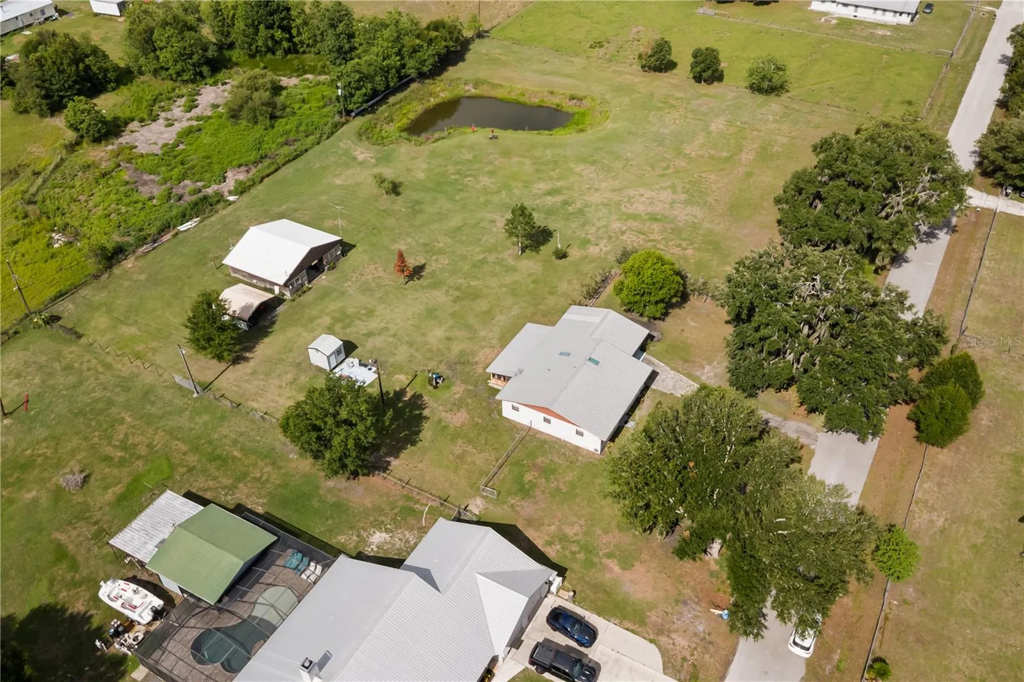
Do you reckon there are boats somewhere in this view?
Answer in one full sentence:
Yes, there's a boat here.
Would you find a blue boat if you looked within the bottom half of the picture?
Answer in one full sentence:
No, no blue boat is visible within the bottom half of the picture.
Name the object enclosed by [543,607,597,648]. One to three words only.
car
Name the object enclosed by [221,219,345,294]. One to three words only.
barn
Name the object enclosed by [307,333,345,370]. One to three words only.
shed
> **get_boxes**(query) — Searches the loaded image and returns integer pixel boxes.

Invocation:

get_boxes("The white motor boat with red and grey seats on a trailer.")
[99,583,164,624]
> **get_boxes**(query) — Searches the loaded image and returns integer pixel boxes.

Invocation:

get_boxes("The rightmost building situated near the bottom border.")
[228,518,556,682]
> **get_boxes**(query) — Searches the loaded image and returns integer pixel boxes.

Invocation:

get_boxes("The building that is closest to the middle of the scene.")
[487,307,654,454]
